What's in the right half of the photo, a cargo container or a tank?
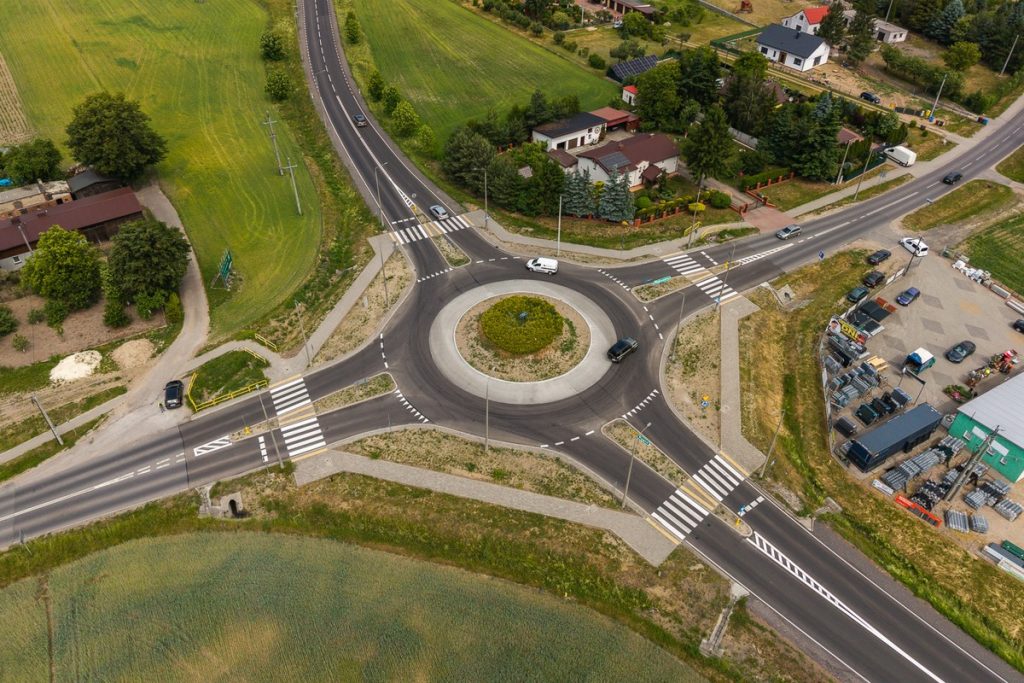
cargo container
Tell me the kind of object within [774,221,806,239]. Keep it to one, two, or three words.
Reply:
car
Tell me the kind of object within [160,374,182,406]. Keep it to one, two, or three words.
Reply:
car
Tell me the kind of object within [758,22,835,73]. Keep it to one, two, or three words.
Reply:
house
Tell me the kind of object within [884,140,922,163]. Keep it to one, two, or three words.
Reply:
vehicle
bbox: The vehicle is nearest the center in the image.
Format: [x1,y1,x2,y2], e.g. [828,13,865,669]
[527,255,558,272]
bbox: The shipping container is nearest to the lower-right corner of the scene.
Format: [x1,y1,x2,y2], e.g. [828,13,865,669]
[845,405,943,472]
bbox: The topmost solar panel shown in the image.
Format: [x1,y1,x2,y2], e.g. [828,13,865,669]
[606,46,663,80]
